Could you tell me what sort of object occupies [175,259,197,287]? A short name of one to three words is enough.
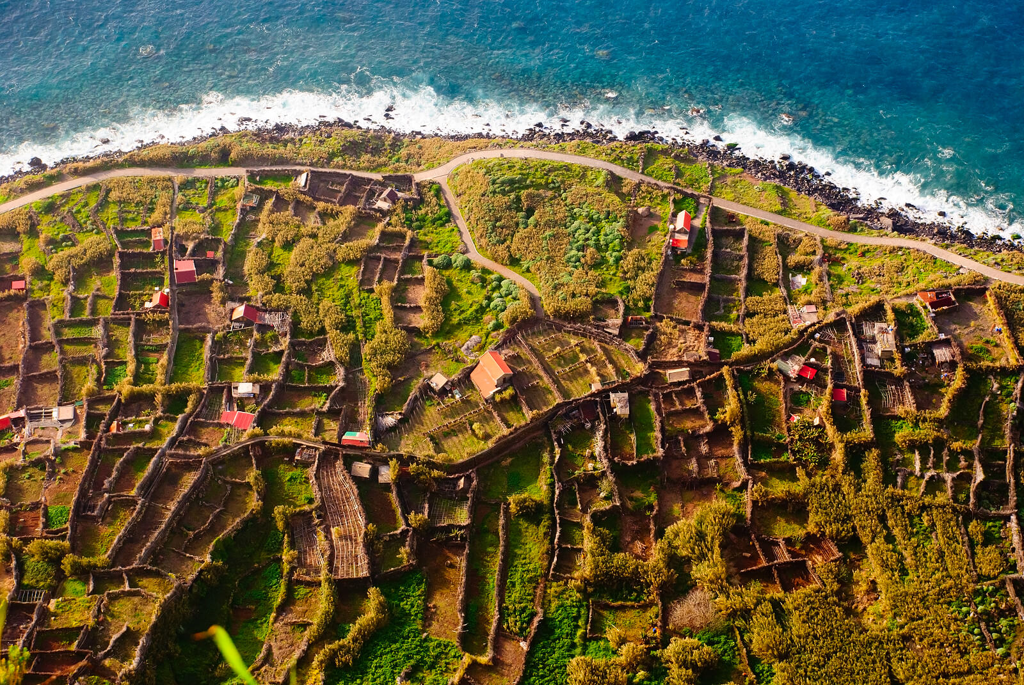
shed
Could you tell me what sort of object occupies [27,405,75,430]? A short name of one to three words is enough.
house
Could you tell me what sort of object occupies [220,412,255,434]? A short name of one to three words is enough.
shed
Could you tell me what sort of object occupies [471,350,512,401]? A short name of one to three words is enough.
house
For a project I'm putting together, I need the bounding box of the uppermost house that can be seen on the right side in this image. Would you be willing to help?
[671,209,691,253]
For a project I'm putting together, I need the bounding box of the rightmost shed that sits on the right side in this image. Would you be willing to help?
[917,290,956,316]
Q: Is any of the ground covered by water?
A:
Yes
